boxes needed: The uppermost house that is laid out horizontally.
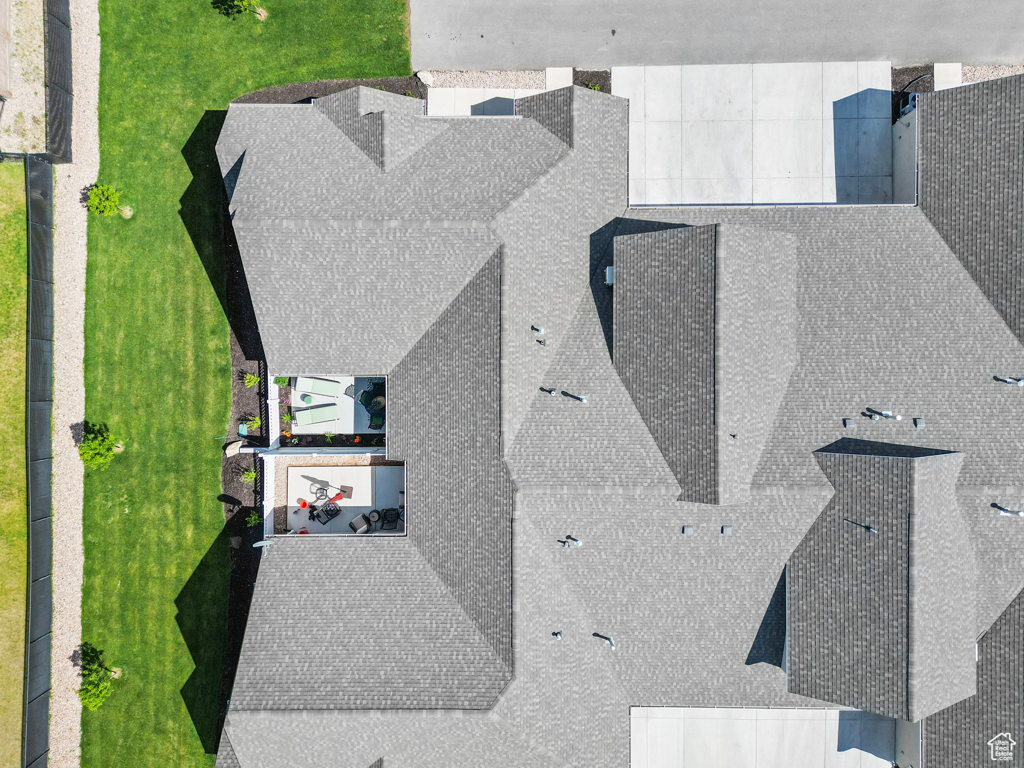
[215,85,1024,506]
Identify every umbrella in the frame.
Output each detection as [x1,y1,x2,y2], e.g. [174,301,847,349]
[330,485,353,503]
